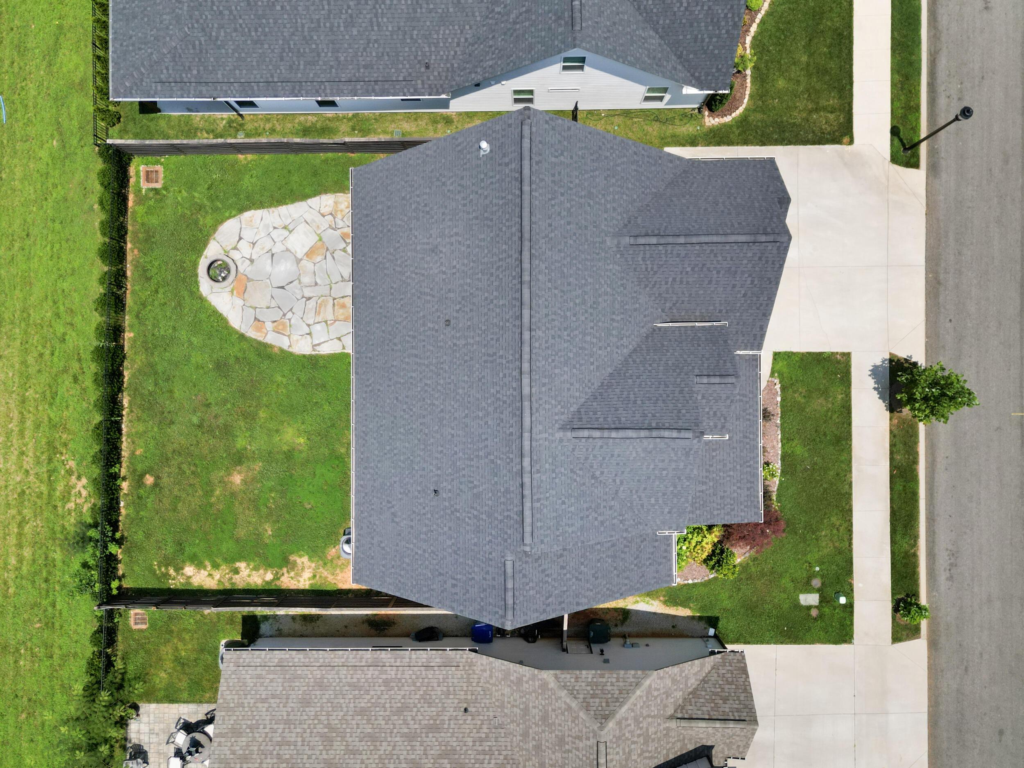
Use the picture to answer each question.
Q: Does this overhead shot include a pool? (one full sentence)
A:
No, I find no pool anywhere in the image.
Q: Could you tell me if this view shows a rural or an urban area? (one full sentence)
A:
The area shown here is urban.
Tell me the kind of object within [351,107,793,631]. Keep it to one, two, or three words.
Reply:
house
